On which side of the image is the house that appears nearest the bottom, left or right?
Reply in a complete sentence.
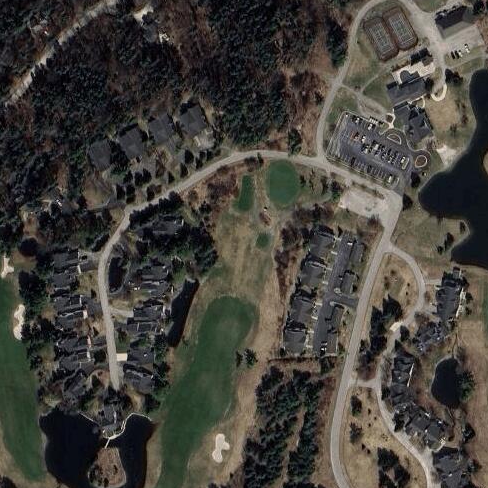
The house that appears nearest the bottom appears in the right half of the scene.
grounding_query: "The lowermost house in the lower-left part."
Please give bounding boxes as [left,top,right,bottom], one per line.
[99,408,120,436]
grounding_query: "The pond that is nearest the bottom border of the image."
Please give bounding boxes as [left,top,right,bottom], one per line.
[40,409,154,488]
